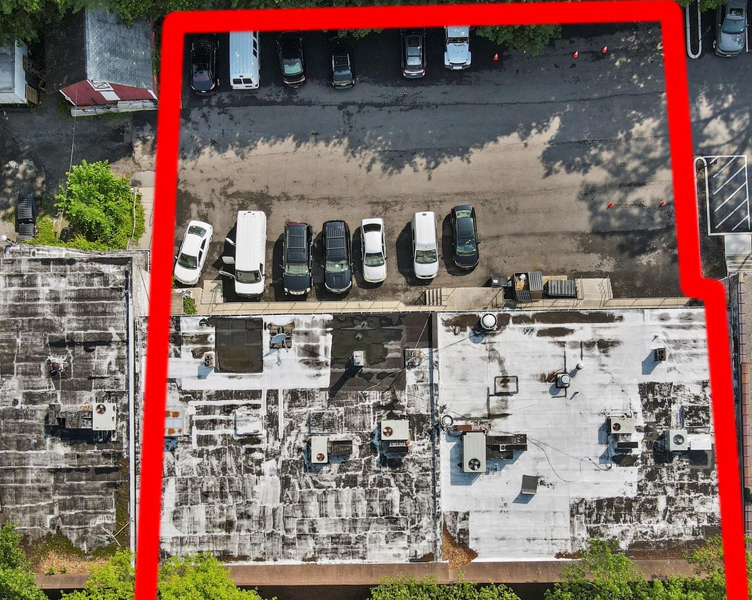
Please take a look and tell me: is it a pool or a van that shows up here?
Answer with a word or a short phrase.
van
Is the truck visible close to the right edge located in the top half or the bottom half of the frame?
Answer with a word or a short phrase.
top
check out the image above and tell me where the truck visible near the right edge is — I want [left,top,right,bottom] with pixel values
[714,0,751,59]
